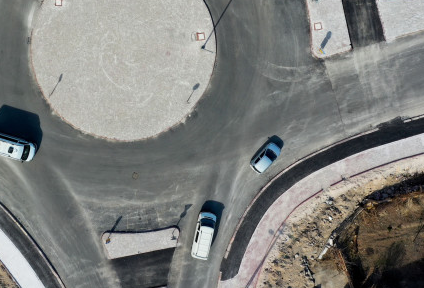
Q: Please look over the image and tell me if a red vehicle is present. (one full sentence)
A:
No, there's no red vehicle here.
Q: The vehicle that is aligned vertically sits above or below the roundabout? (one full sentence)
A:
Looking at the scene, the vehicle that is aligned vertically is located below the roundabout.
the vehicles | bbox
[191,212,216,258]
[0,131,37,162]
[249,140,281,174]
